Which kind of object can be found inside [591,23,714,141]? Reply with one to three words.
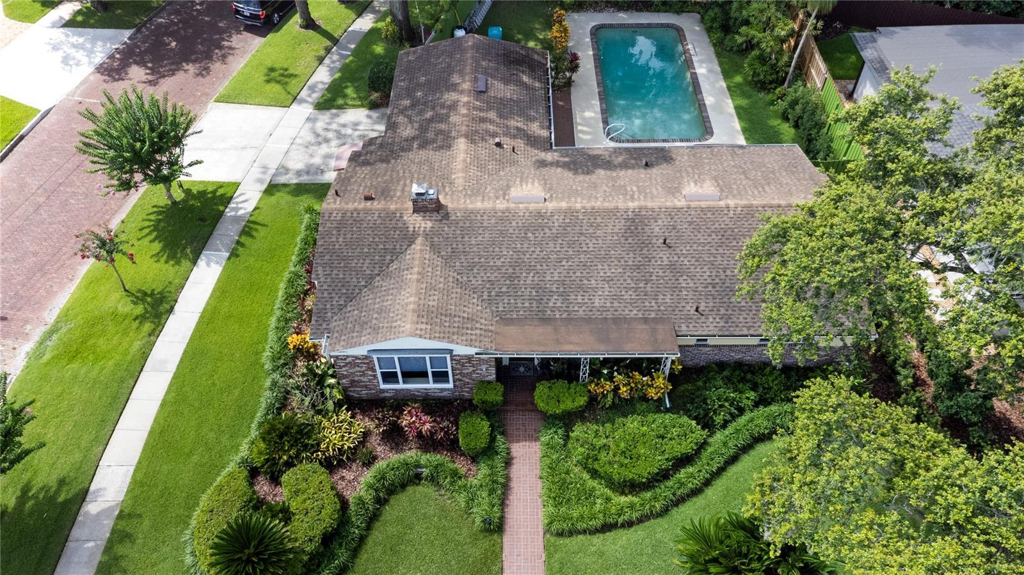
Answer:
swimming pool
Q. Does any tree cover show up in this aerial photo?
Yes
